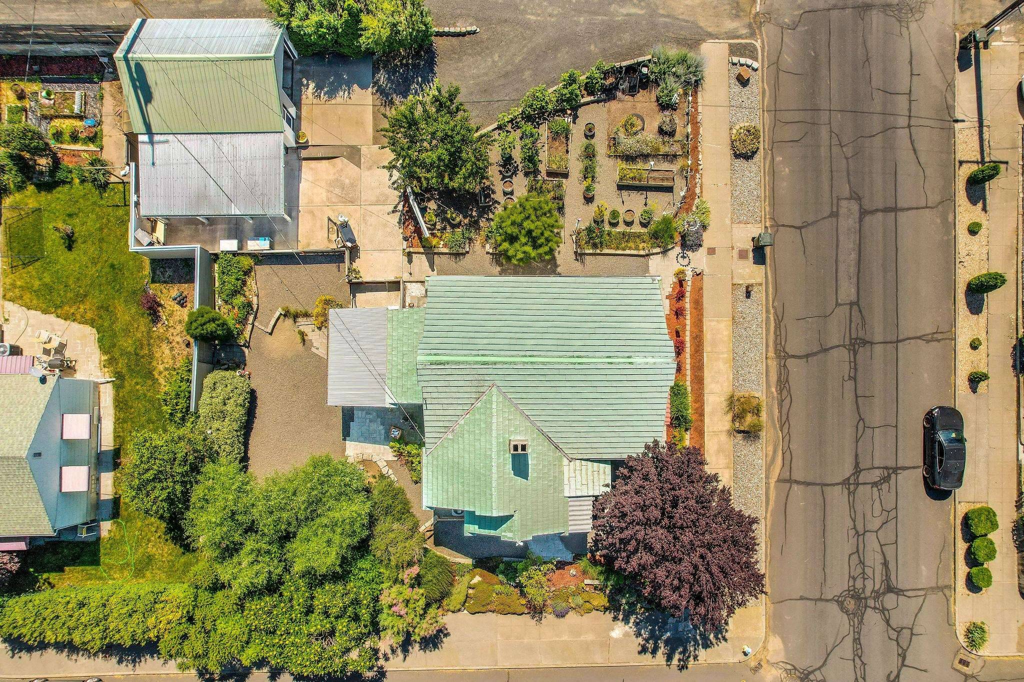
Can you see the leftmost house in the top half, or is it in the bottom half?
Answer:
bottom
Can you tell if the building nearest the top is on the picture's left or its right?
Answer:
left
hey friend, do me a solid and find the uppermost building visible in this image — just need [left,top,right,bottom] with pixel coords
[114,18,298,146]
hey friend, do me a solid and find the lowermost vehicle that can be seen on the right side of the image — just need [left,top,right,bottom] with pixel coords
[920,406,966,489]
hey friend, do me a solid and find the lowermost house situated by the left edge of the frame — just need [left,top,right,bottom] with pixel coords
[0,356,98,550]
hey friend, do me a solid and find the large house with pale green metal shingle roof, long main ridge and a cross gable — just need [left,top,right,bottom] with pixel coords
[328,274,680,545]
